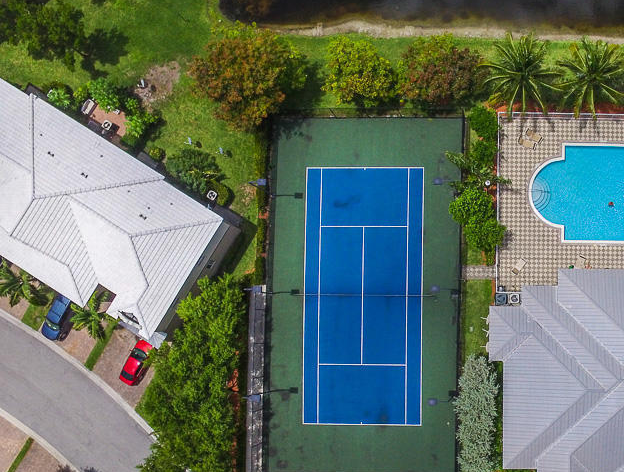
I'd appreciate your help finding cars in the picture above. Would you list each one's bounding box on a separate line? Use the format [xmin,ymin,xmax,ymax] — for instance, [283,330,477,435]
[38,291,81,343]
[116,337,158,389]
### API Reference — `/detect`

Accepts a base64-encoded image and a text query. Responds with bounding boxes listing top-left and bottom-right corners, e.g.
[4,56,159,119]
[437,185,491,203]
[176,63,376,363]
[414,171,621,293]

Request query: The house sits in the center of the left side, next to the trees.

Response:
[0,77,241,349]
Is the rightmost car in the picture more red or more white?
red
